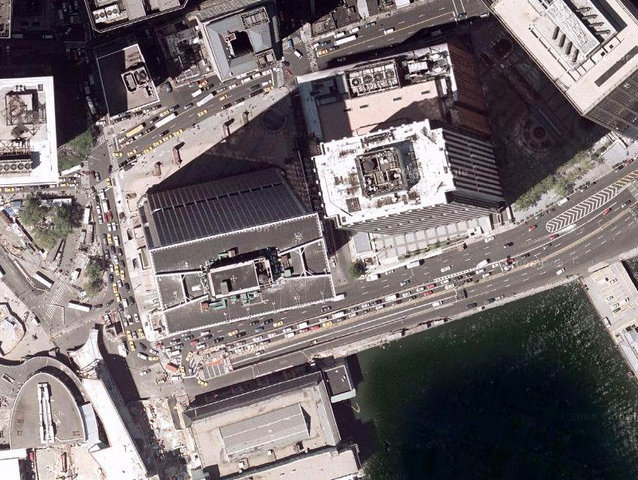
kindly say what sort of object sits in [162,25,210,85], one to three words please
building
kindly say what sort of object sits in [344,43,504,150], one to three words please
building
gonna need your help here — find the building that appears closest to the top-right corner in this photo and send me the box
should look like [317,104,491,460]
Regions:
[483,0,638,138]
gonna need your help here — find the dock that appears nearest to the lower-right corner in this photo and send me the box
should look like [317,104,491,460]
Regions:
[581,263,638,378]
